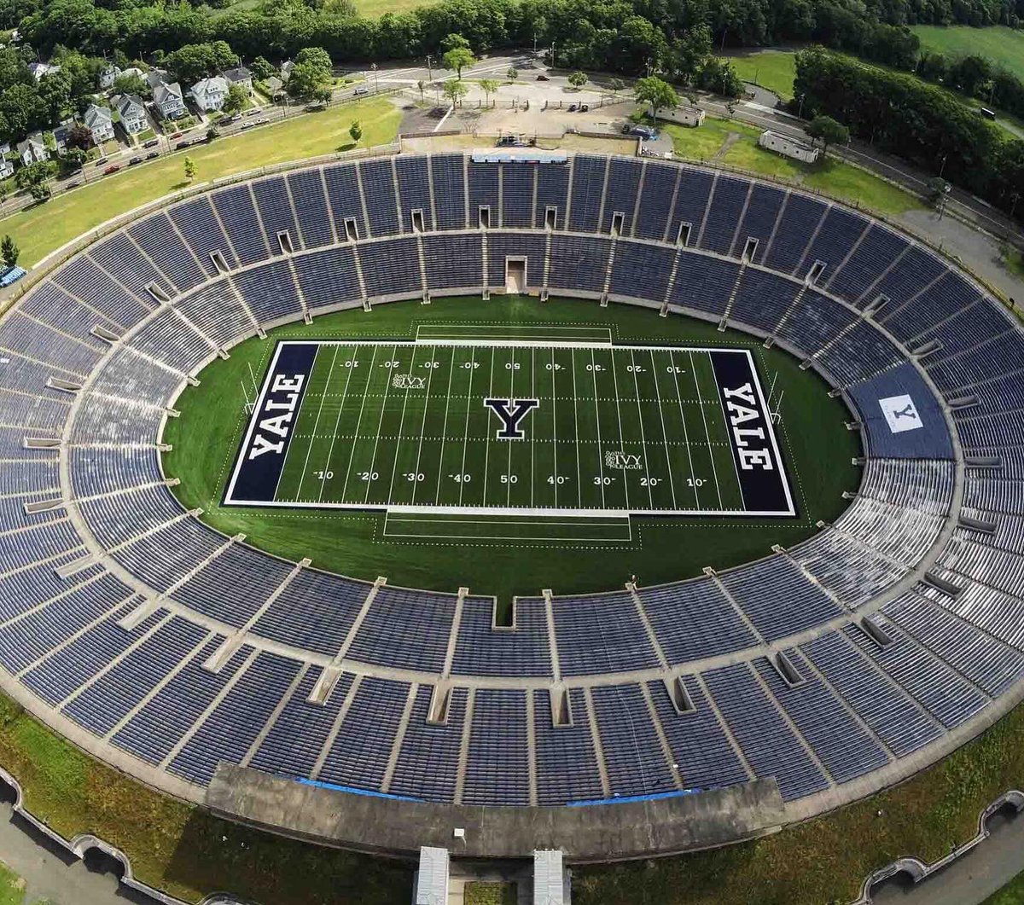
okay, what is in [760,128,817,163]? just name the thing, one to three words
building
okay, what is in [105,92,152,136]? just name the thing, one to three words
house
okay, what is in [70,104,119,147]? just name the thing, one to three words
house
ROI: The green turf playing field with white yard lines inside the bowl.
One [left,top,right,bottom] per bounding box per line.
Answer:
[158,292,865,630]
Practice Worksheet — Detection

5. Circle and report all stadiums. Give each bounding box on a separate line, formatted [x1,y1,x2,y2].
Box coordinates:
[0,148,1024,826]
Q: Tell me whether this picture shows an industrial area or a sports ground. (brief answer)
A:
sports ground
